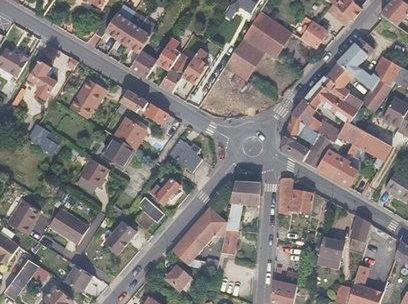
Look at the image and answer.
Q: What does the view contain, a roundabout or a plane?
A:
roundabout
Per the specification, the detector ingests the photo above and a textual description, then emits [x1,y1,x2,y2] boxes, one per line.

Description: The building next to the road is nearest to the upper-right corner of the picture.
[382,0,408,26]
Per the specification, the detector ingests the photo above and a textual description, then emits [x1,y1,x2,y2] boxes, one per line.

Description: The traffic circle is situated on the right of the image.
[205,110,292,185]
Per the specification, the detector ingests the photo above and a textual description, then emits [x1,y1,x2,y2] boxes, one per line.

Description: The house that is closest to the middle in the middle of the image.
[170,140,204,172]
